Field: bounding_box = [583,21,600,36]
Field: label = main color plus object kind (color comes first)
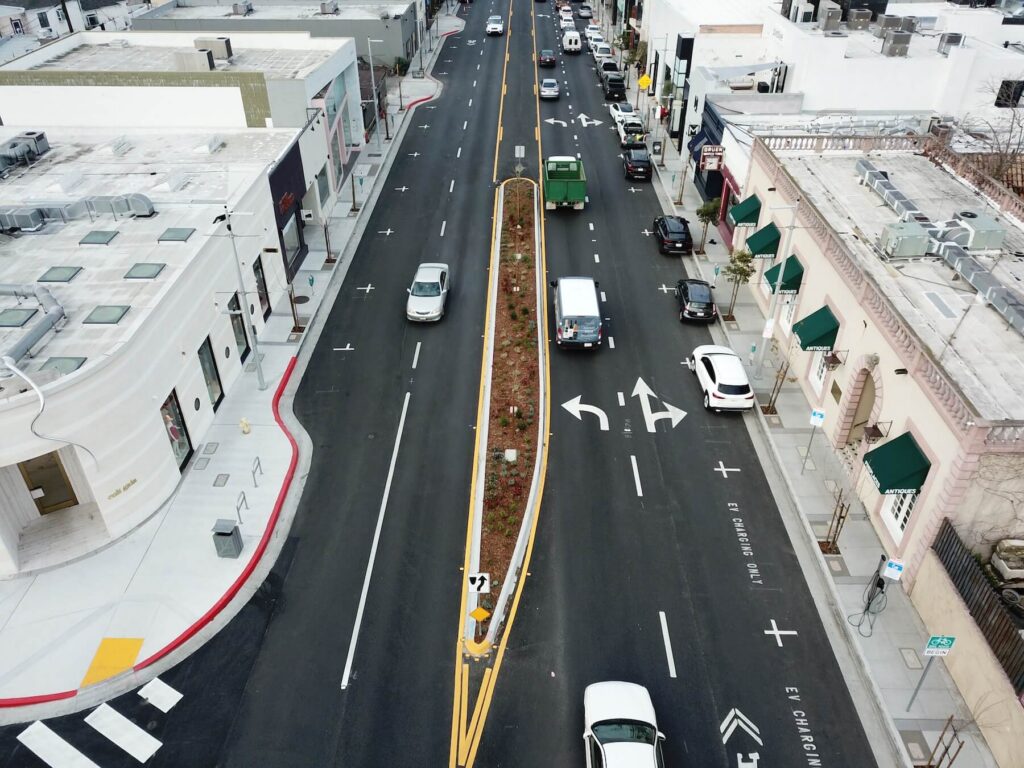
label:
white car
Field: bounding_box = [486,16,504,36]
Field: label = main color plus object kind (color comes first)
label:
white car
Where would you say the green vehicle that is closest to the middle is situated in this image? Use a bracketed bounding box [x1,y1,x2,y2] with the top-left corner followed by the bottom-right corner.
[540,152,587,212]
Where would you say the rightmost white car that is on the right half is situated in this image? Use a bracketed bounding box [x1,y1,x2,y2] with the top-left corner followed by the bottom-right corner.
[687,335,757,409]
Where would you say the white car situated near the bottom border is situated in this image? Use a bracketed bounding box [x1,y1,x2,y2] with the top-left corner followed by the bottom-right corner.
[578,681,673,768]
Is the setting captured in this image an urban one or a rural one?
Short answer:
urban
